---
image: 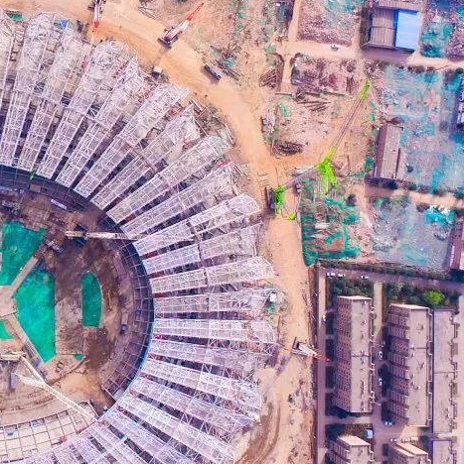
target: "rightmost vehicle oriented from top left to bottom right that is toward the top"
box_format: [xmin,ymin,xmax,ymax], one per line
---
[205,63,224,80]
